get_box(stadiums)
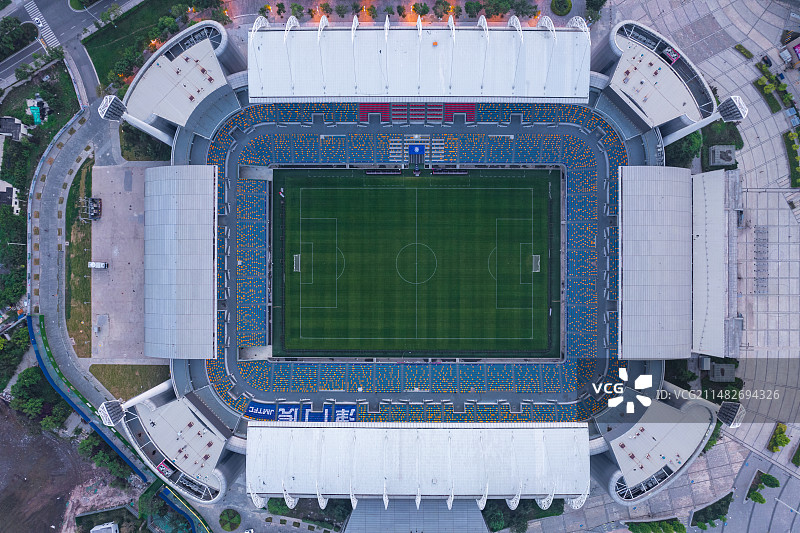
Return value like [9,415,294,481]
[145,20,743,533]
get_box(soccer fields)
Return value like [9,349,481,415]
[273,169,562,358]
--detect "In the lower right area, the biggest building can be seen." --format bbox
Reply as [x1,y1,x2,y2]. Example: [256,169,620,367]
[591,389,717,506]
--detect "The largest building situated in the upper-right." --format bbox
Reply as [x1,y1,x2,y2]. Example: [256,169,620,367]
[591,20,716,134]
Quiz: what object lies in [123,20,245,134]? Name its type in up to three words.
building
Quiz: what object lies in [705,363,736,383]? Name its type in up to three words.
house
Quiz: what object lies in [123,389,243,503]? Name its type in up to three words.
building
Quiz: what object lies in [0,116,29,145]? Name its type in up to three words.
house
